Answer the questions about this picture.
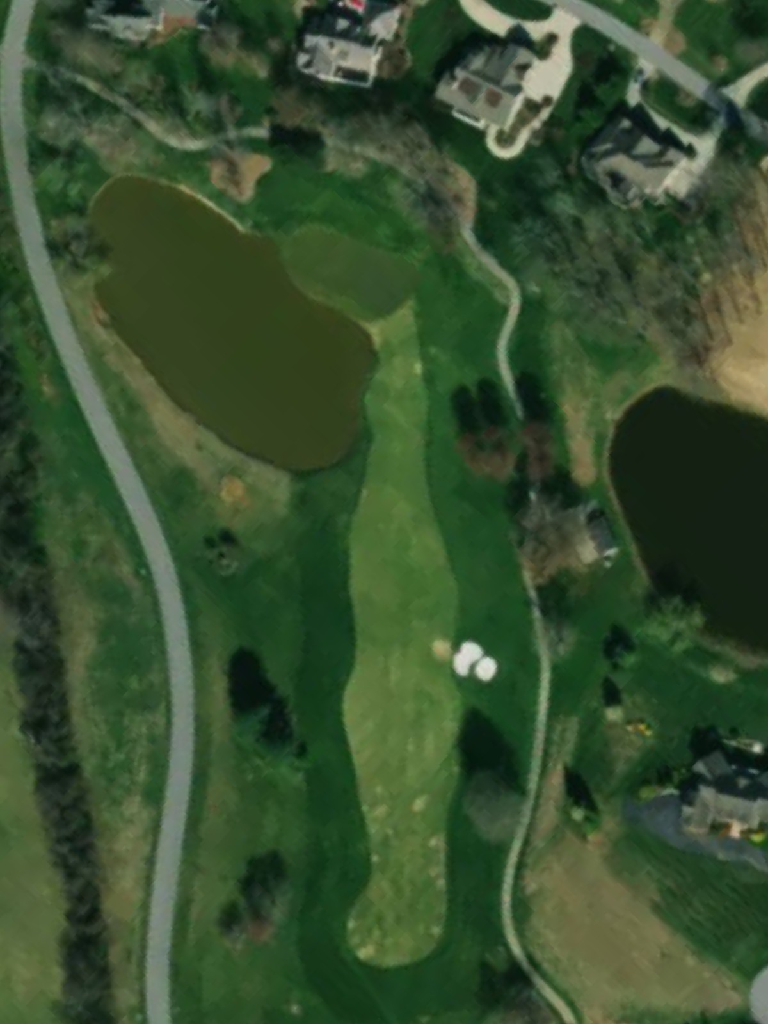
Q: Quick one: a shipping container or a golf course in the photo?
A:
golf course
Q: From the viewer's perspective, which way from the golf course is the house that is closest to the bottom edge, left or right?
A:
right of it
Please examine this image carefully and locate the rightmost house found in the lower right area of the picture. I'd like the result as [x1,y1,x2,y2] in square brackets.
[682,750,768,837]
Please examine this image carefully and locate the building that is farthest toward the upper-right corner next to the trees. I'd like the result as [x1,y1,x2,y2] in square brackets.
[583,107,693,200]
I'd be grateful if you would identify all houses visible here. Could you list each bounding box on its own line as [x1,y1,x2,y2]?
[295,0,410,85]
[583,107,693,200]
[78,0,214,40]
[431,26,546,129]
[682,750,768,837]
